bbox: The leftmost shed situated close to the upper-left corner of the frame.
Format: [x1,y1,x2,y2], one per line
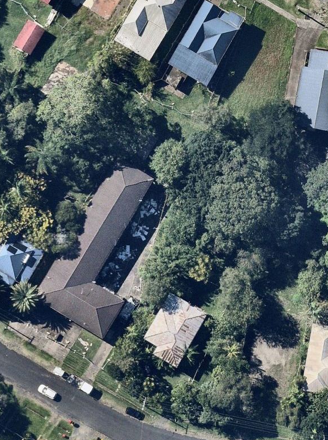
[13,19,46,55]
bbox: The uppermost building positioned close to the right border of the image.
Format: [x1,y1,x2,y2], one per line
[292,49,328,131]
